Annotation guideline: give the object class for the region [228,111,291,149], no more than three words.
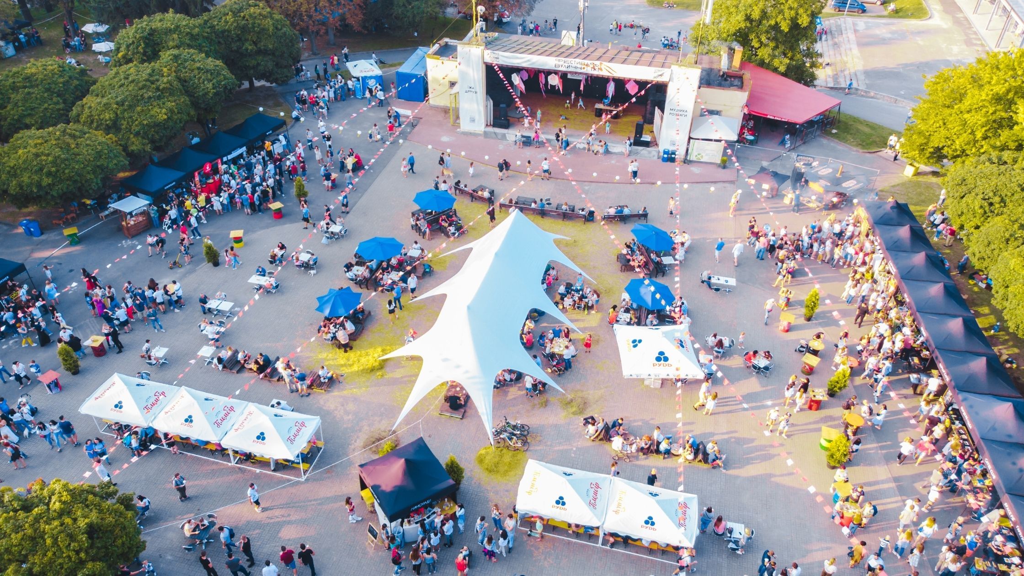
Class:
tent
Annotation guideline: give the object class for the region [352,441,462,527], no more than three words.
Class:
tent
